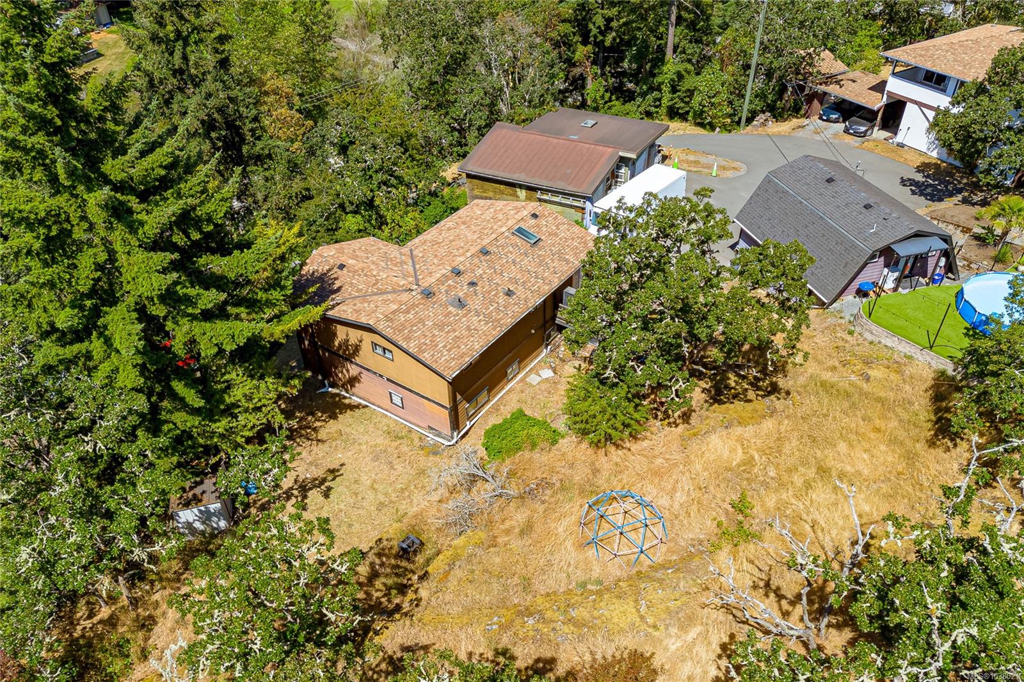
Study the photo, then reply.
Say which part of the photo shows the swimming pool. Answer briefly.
right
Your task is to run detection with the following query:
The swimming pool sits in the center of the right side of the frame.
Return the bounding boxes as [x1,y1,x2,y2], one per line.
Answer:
[951,275,1024,353]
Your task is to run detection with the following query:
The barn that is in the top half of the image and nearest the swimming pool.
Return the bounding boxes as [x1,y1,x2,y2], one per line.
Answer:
[734,155,962,307]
